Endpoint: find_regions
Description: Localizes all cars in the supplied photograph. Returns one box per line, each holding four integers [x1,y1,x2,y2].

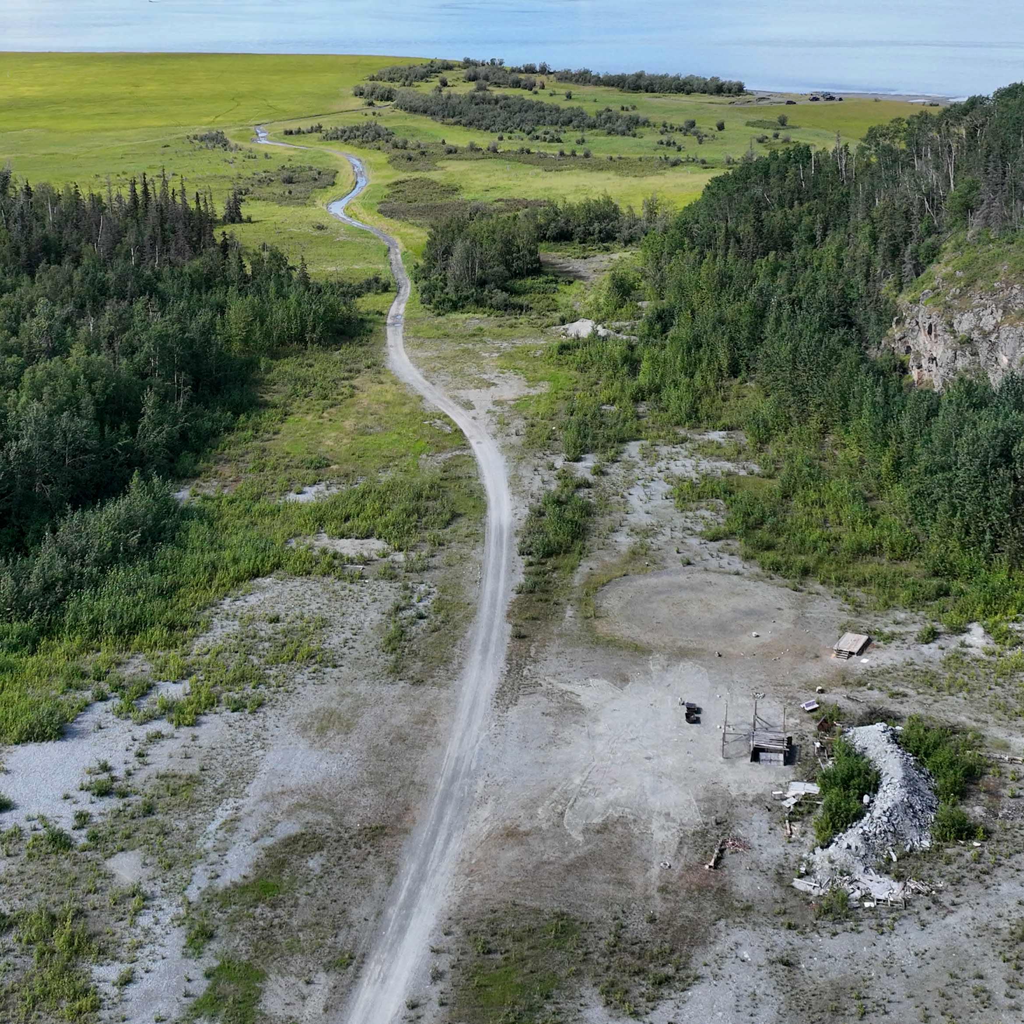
[809,96,821,101]
[819,92,832,97]
[824,95,837,100]
[785,99,797,104]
